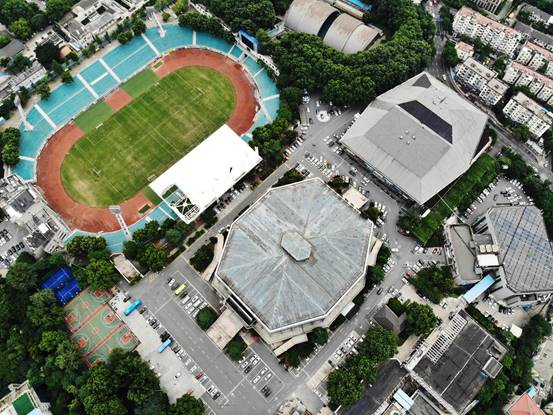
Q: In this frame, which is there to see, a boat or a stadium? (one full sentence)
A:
The image shows a stadium.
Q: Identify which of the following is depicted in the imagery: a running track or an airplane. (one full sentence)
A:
I can see a running track in this picture.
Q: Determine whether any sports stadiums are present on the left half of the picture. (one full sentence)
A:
Yes, there is a sports stadium on the left half of the picture.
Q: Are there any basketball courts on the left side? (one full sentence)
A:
Yes, you'll find a basketball court on the left side.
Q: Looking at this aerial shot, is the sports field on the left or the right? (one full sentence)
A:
The sports field sits on the left side.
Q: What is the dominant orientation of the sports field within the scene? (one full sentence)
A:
In this picture, the sports field is oriented diagonally.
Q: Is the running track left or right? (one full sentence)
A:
The running track is on the left side of the image.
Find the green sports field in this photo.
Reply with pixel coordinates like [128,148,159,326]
[60,67,235,208]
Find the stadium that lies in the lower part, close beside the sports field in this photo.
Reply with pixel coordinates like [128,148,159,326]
[201,177,382,357]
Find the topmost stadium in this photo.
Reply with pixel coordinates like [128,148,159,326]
[19,29,280,251]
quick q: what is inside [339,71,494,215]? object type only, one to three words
building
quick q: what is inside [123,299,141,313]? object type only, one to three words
vehicle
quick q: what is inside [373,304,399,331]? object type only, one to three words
house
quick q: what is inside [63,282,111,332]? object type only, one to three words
basketball court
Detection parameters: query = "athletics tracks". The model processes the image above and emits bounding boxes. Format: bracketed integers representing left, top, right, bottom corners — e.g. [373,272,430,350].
[36,50,258,231]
